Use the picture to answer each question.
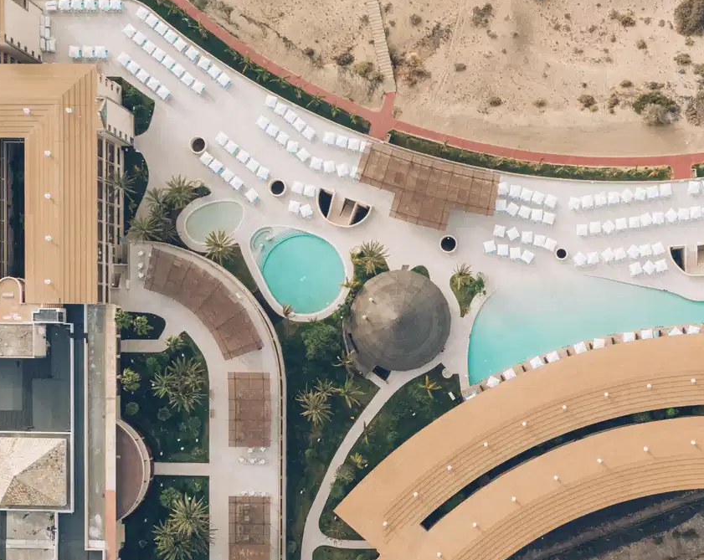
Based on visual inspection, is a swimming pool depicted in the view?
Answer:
Yes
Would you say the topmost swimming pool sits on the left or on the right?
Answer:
left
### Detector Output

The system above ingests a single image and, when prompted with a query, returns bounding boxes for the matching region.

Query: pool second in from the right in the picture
[247,223,350,322]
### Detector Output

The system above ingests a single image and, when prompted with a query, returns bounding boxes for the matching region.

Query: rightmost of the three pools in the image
[469,272,704,387]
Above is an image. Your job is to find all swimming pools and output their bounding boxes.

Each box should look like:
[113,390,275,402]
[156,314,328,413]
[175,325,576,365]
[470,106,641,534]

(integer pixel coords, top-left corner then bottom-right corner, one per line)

[247,223,350,322]
[469,272,704,387]
[182,198,246,246]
